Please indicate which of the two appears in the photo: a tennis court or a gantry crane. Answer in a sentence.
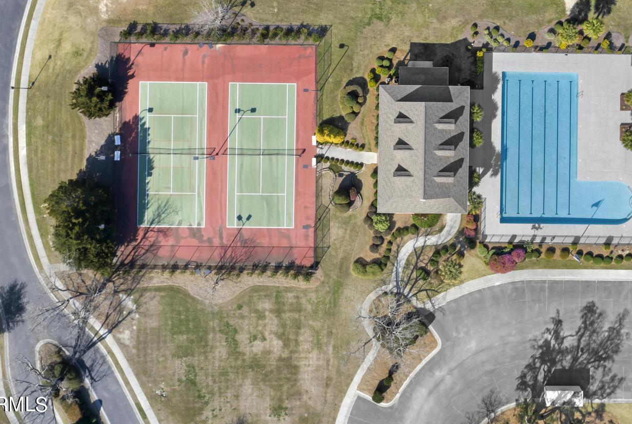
It is a tennis court that can be seen here.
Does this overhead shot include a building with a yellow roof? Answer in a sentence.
No, there isn't any building with a yellow roof down there.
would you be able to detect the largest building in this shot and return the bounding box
[378,85,470,214]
